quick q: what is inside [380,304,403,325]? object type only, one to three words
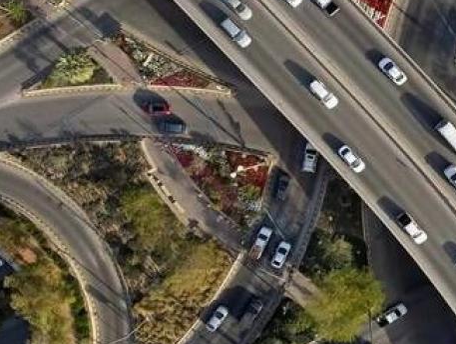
car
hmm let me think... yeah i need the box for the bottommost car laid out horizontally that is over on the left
[157,120,186,133]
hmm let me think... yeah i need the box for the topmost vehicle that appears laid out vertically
[302,143,317,172]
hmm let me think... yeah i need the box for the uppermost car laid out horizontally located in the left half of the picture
[143,99,172,113]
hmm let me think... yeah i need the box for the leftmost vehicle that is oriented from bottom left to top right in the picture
[206,304,228,332]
